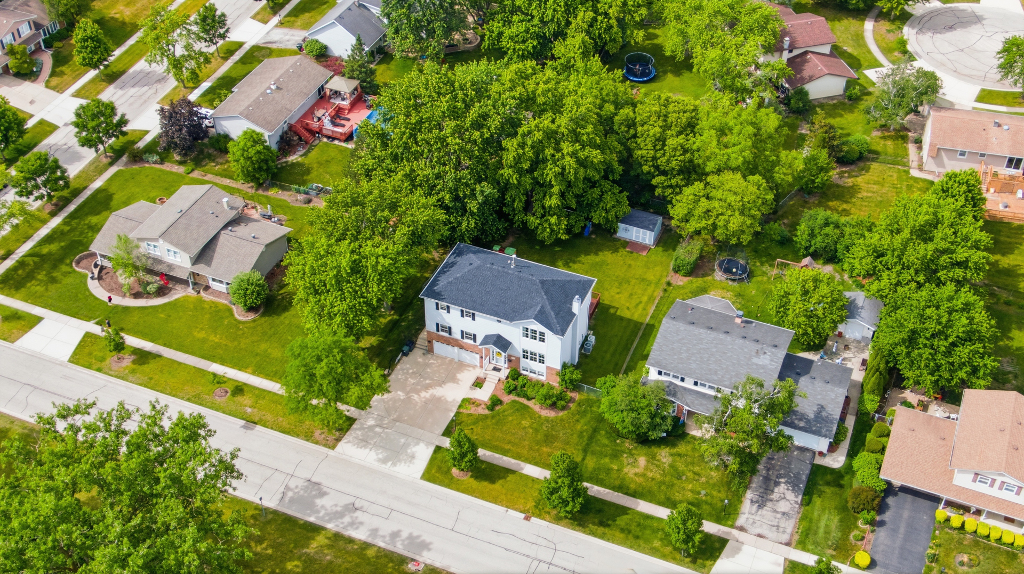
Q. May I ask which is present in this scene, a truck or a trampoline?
trampoline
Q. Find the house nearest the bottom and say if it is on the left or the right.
right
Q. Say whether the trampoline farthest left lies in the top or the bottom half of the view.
top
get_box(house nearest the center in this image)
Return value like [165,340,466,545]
[417,241,606,390]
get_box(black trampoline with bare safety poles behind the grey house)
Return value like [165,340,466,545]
[714,246,750,288]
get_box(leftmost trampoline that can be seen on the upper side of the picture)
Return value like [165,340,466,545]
[624,51,655,80]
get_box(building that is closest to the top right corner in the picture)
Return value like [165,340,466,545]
[921,105,1024,219]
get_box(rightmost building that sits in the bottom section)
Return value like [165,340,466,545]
[879,389,1024,535]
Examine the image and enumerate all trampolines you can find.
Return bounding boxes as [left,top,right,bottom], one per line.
[624,51,655,80]
[714,246,750,288]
